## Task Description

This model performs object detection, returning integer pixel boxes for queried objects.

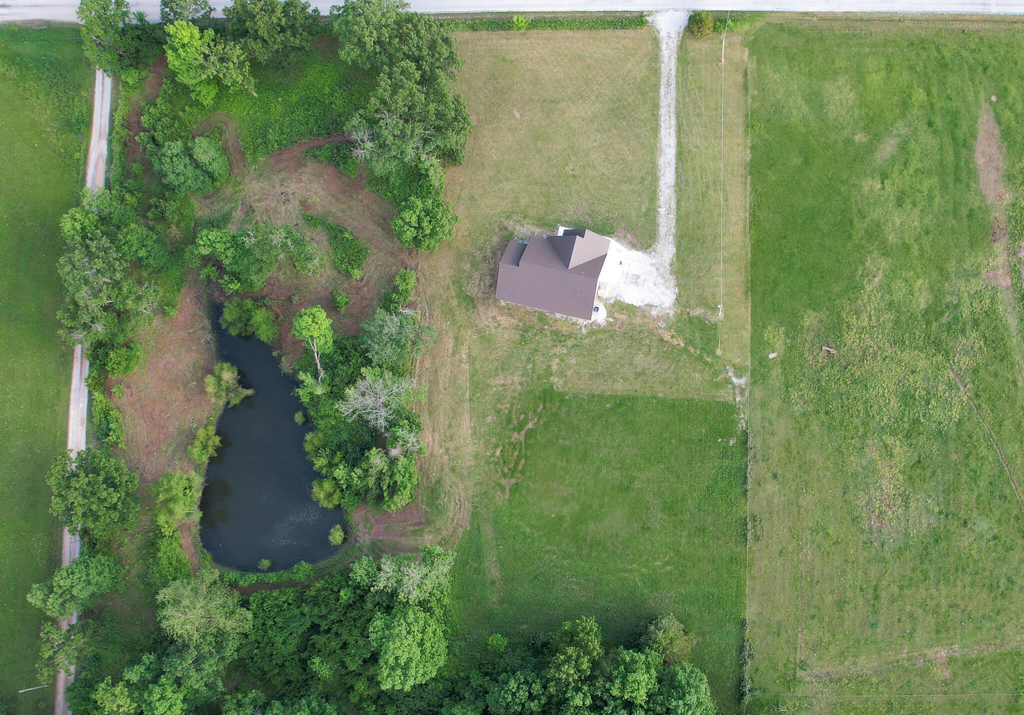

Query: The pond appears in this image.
[202,300,348,572]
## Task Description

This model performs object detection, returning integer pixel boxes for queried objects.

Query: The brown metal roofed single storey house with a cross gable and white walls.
[496,226,615,327]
